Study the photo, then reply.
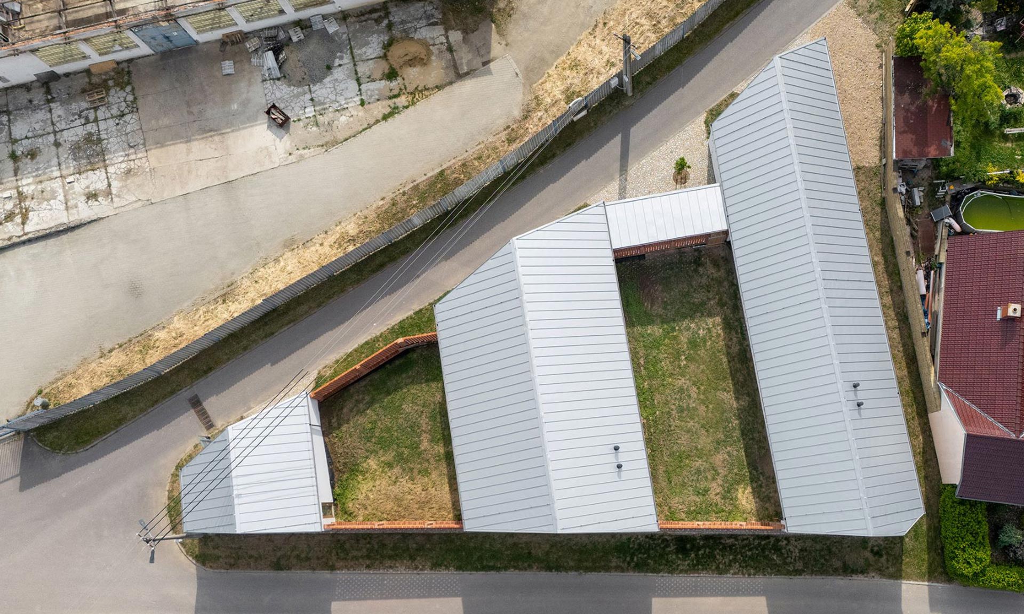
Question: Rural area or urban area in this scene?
urban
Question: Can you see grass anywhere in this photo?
Yes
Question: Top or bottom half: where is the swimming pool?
top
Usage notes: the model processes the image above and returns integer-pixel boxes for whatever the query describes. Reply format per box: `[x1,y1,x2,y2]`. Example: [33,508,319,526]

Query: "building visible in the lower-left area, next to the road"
[178,391,333,535]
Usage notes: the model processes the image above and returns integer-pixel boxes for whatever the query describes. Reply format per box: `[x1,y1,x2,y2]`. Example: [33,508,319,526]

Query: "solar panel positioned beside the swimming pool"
[926,205,952,225]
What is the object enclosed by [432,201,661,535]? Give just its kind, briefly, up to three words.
house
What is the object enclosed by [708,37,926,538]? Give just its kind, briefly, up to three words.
house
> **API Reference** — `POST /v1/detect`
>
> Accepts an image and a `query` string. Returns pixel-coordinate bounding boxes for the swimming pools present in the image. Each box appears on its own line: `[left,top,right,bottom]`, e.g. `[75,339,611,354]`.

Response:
[955,190,1024,230]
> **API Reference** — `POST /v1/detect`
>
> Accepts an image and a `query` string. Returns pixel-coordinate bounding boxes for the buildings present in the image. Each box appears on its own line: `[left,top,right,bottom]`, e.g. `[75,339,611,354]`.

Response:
[708,37,926,538]
[178,391,333,535]
[929,227,1024,507]
[889,56,955,169]
[432,201,661,535]
[0,0,389,88]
